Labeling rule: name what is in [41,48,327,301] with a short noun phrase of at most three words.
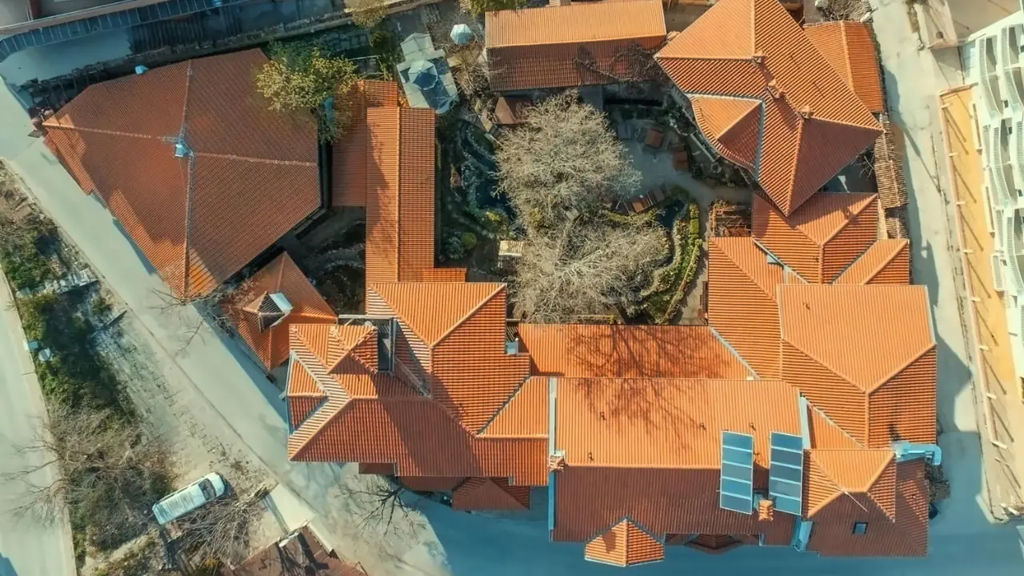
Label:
house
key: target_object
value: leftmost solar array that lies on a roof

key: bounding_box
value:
[715,430,754,514]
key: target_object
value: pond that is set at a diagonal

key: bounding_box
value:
[463,132,518,214]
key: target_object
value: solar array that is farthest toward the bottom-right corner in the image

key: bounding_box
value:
[763,430,802,515]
